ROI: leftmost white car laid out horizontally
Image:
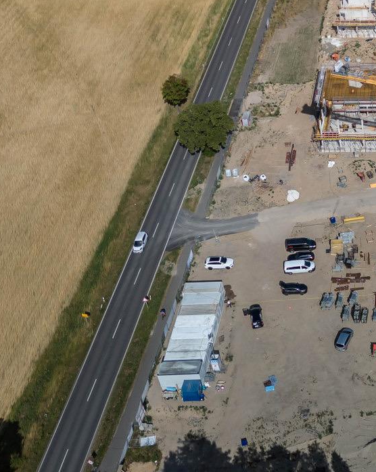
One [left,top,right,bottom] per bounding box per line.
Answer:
[205,256,233,269]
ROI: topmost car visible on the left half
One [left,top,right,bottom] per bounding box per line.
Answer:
[131,231,148,251]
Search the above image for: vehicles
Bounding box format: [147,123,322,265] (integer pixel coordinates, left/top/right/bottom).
[332,328,354,351]
[287,250,314,261]
[205,256,233,269]
[245,305,263,326]
[277,280,307,294]
[285,237,316,252]
[283,258,314,273]
[131,231,148,251]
